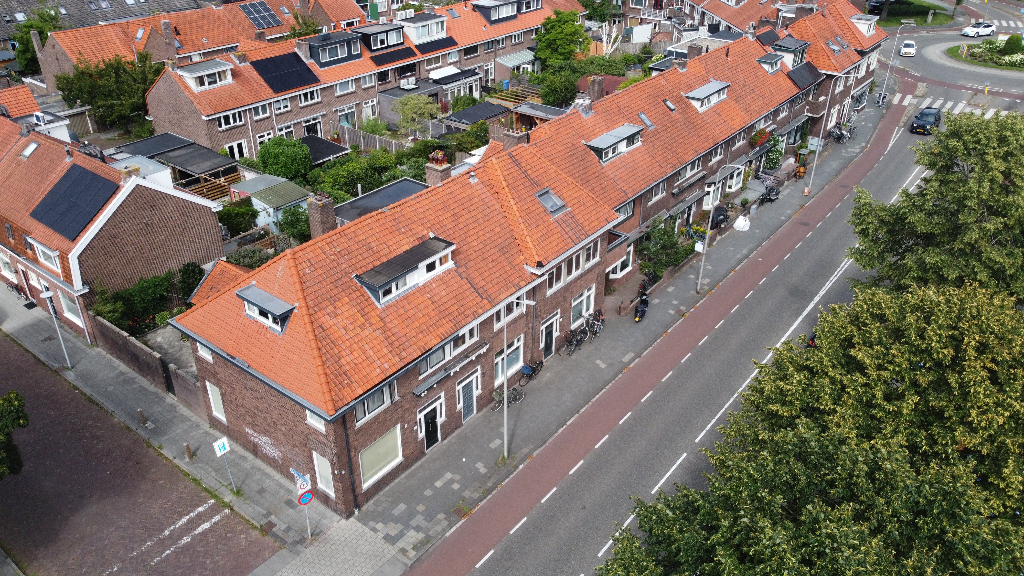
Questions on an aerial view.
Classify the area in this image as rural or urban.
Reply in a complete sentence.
The land in this view is best described as urban.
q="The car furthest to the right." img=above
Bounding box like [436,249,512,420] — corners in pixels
[964,22,1001,37]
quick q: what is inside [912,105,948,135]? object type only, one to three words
car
